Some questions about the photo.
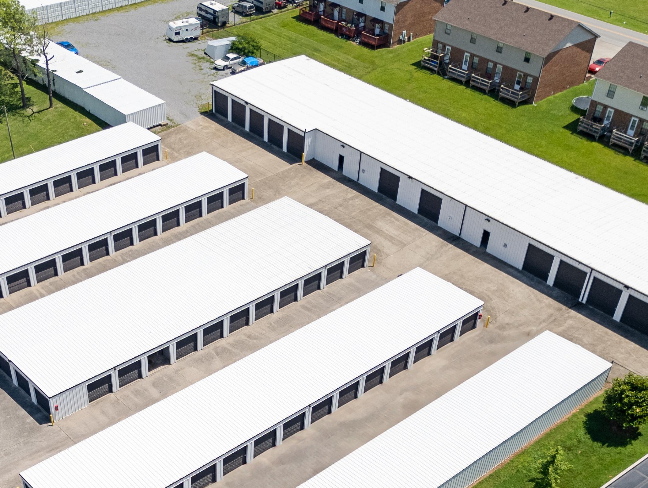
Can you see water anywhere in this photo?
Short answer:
No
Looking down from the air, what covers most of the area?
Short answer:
buildings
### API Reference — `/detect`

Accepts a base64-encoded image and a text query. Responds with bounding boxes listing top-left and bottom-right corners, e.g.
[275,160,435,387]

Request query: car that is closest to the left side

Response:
[57,35,85,53]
